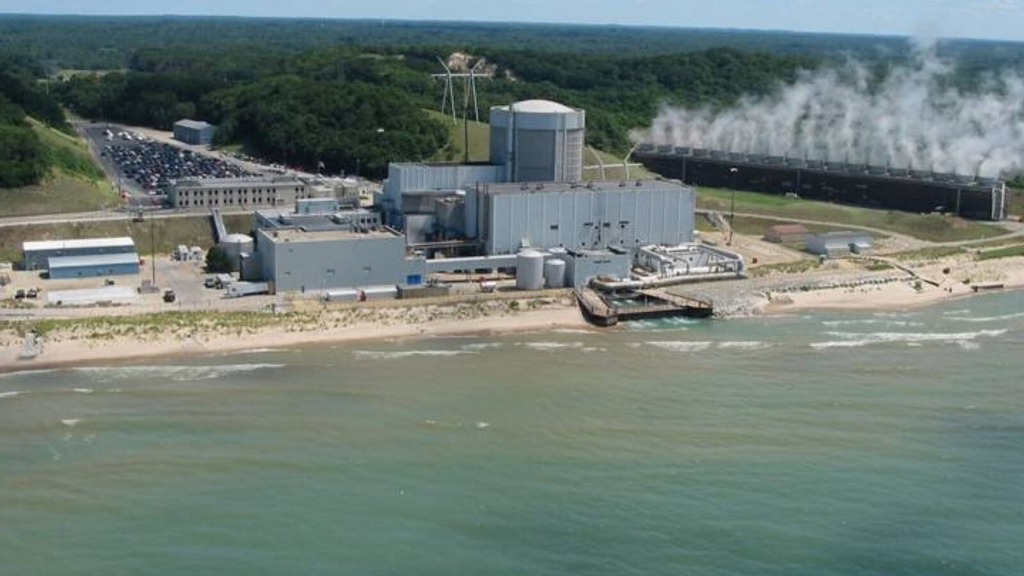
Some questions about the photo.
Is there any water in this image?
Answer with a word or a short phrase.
Yes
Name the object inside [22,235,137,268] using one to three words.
building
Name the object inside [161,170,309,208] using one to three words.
building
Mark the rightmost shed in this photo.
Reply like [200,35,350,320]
[795,232,876,255]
